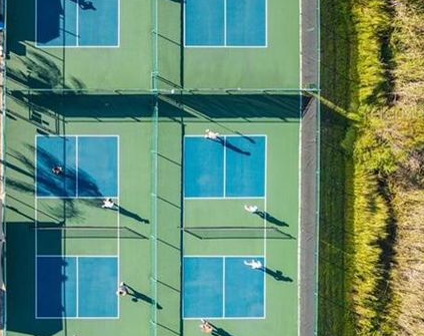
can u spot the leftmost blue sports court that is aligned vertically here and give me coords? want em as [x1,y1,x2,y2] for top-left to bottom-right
[36,135,119,320]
